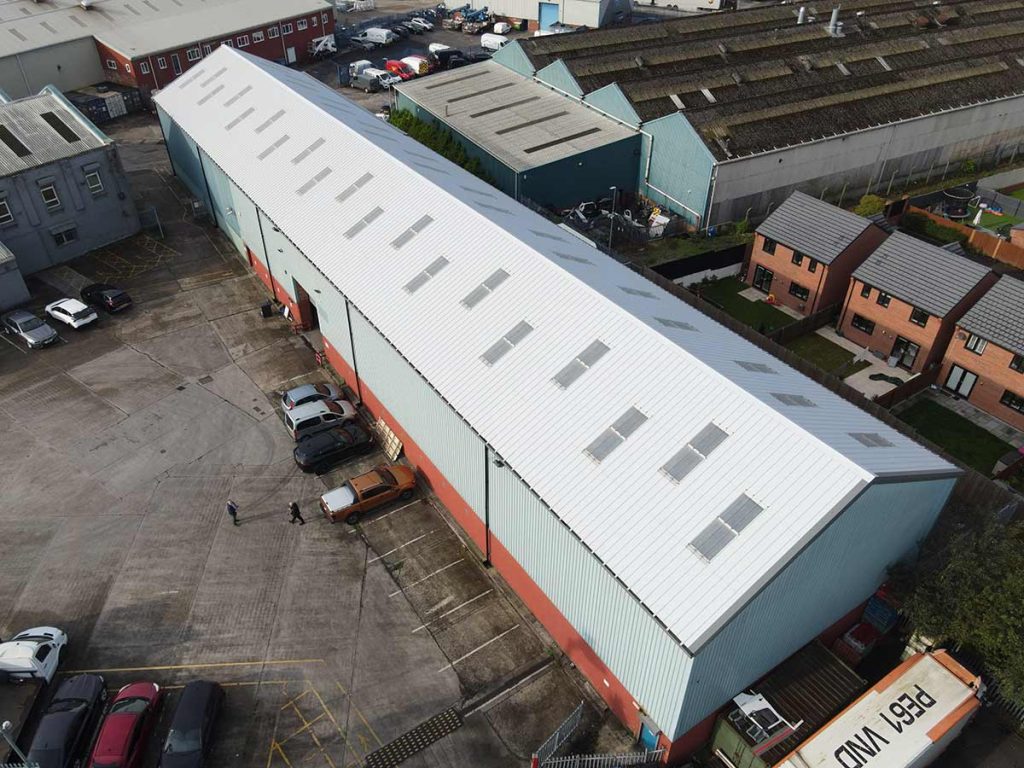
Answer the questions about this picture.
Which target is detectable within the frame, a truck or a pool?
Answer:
truck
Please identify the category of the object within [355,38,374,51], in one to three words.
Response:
vehicle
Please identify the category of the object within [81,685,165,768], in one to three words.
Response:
car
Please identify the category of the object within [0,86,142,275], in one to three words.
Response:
building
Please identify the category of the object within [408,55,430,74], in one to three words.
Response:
vehicle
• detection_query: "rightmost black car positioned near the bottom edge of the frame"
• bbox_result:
[145,681,224,768]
